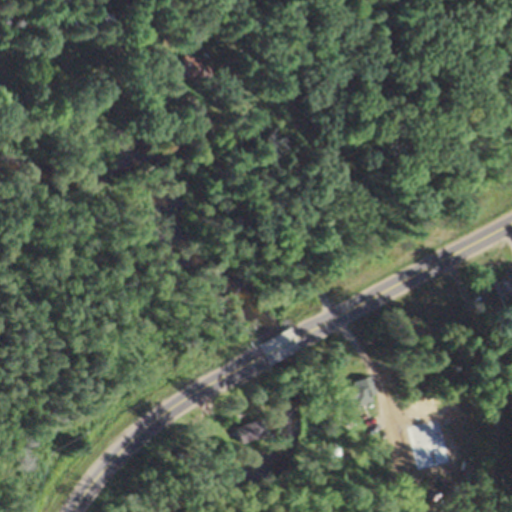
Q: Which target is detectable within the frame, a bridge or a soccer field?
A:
bridge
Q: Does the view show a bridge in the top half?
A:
No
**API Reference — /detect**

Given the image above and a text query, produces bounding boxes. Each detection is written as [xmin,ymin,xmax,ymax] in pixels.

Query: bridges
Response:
[260,327,302,364]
